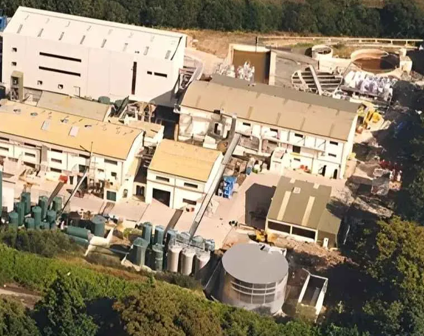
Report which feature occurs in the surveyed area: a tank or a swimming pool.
tank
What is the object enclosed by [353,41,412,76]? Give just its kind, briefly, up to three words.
storage tank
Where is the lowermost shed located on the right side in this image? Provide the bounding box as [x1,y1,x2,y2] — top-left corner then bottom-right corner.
[266,183,342,242]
